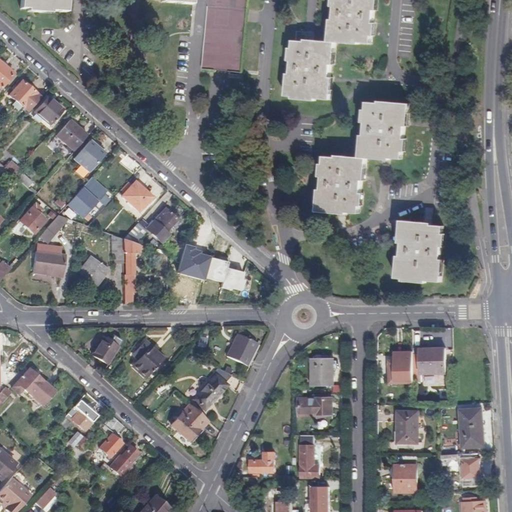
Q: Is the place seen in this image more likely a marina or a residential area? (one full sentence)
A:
What you see here is a residential area.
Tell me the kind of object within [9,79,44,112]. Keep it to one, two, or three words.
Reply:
house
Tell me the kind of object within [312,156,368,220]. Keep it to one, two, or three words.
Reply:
building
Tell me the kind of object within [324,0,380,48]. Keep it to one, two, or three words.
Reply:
building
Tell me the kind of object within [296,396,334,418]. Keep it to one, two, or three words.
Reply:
house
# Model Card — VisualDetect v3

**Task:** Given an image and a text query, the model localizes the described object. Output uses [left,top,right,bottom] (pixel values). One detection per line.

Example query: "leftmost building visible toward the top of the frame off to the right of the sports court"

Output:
[281,39,337,104]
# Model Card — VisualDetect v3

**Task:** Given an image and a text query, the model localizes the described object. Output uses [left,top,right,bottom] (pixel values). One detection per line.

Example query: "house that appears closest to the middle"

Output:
[179,245,246,290]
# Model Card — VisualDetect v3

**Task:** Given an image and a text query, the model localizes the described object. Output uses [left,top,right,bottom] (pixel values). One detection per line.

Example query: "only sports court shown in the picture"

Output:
[202,0,246,72]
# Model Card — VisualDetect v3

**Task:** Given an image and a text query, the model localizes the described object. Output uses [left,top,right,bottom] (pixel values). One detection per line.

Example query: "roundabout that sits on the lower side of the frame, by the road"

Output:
[276,288,332,344]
